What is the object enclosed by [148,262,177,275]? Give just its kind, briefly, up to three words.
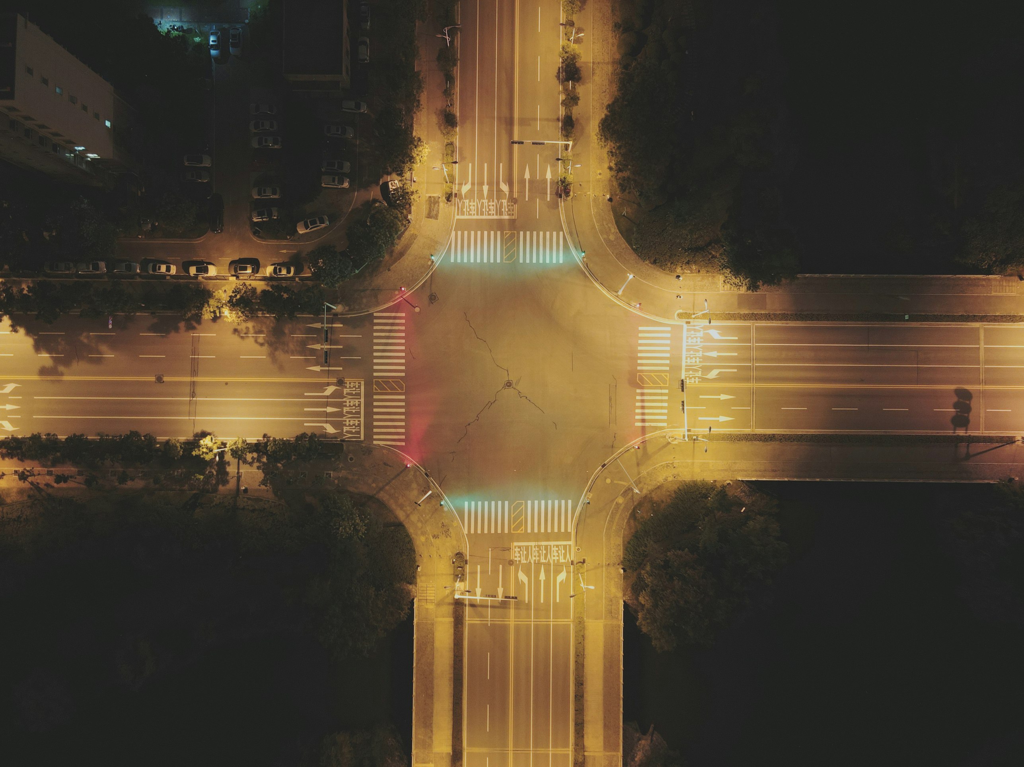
vehicle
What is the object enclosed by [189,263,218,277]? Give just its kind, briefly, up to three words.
car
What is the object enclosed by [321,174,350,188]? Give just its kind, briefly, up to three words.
car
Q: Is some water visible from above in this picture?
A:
Yes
